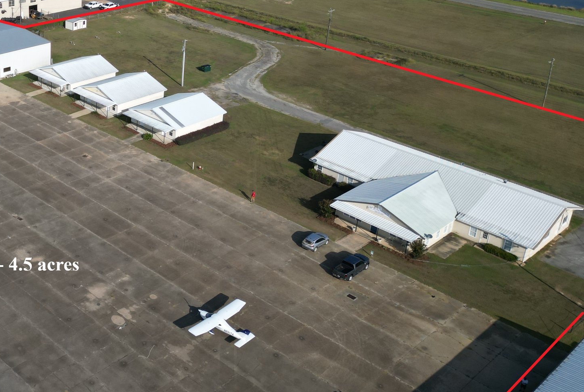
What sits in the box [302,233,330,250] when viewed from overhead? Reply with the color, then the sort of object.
gray car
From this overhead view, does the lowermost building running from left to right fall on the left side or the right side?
right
